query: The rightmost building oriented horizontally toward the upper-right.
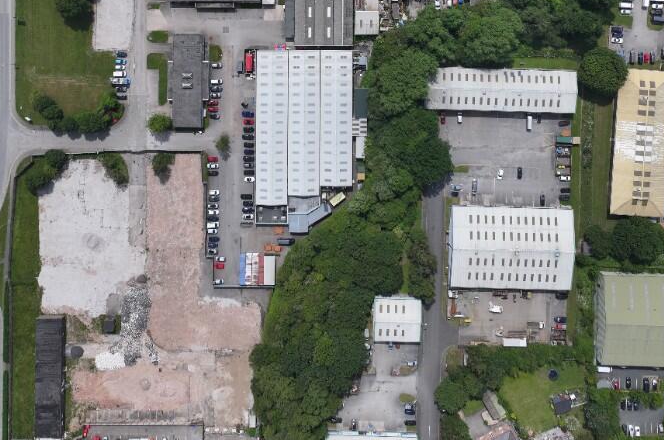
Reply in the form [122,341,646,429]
[426,67,578,113]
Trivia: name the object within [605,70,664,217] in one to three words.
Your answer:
building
